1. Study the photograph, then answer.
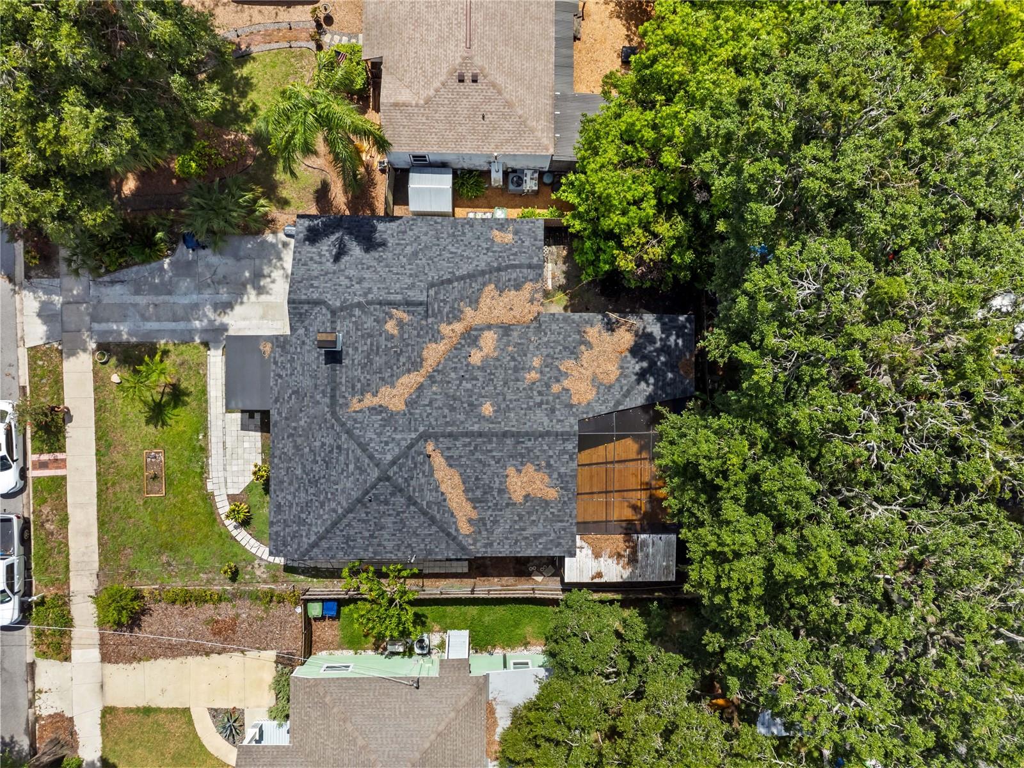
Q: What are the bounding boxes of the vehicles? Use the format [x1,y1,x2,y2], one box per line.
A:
[0,401,26,495]
[0,516,31,631]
